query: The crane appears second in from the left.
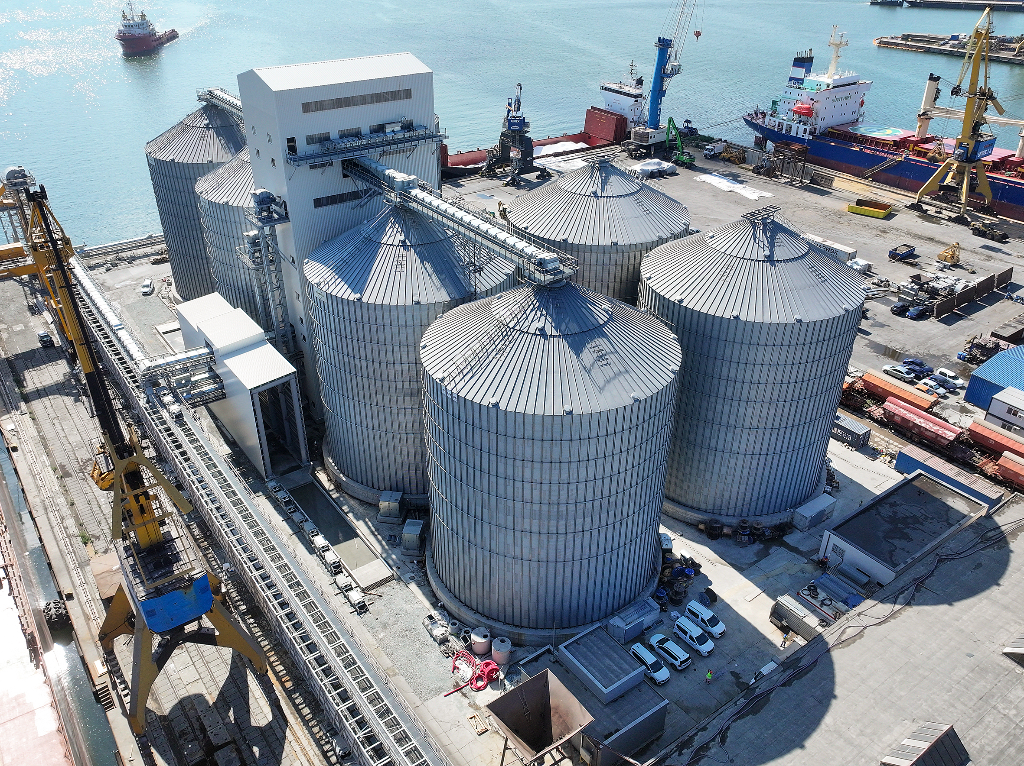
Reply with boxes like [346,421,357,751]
[466,80,549,185]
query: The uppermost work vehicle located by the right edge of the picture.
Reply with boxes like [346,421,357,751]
[968,211,1012,237]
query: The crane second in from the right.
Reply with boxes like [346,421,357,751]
[609,0,701,159]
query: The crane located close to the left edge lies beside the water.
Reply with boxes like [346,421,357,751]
[12,183,278,760]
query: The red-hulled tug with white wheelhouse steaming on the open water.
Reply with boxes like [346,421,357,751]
[105,0,179,58]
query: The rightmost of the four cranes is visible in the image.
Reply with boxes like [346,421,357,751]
[909,0,1017,217]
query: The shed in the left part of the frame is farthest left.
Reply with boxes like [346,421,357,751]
[171,296,315,480]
